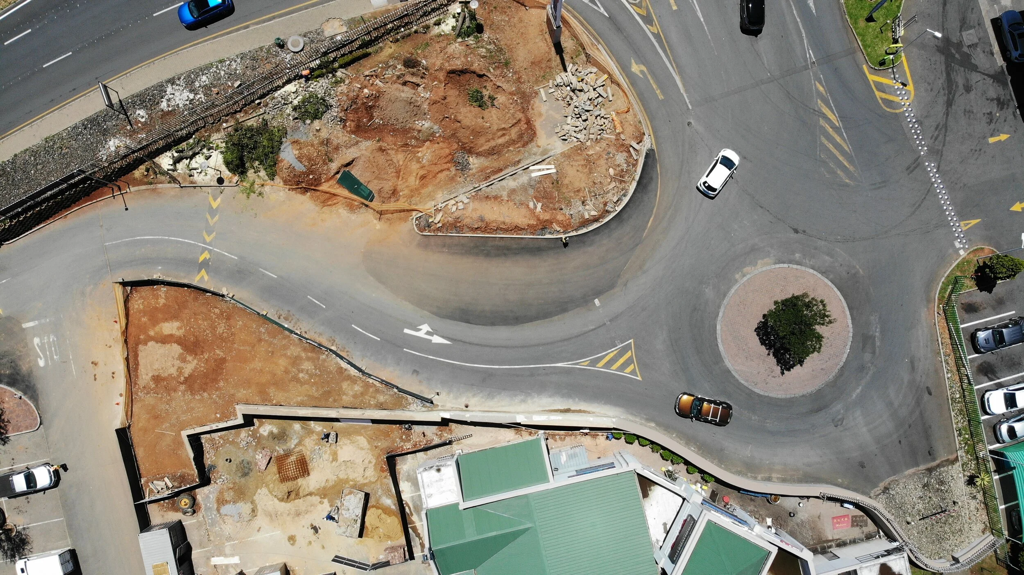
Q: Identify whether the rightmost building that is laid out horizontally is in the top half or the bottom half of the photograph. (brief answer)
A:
bottom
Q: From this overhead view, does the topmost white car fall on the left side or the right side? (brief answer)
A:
right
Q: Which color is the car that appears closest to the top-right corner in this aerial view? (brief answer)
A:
black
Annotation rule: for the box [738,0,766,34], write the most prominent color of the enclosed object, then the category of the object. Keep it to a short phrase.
black car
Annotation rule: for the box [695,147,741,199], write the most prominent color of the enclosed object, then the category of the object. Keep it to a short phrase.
white car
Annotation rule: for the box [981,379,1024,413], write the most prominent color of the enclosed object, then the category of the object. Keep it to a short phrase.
white car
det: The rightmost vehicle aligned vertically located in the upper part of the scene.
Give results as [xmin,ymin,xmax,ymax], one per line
[997,8,1024,67]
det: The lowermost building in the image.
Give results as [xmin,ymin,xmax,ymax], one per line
[813,534,910,575]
